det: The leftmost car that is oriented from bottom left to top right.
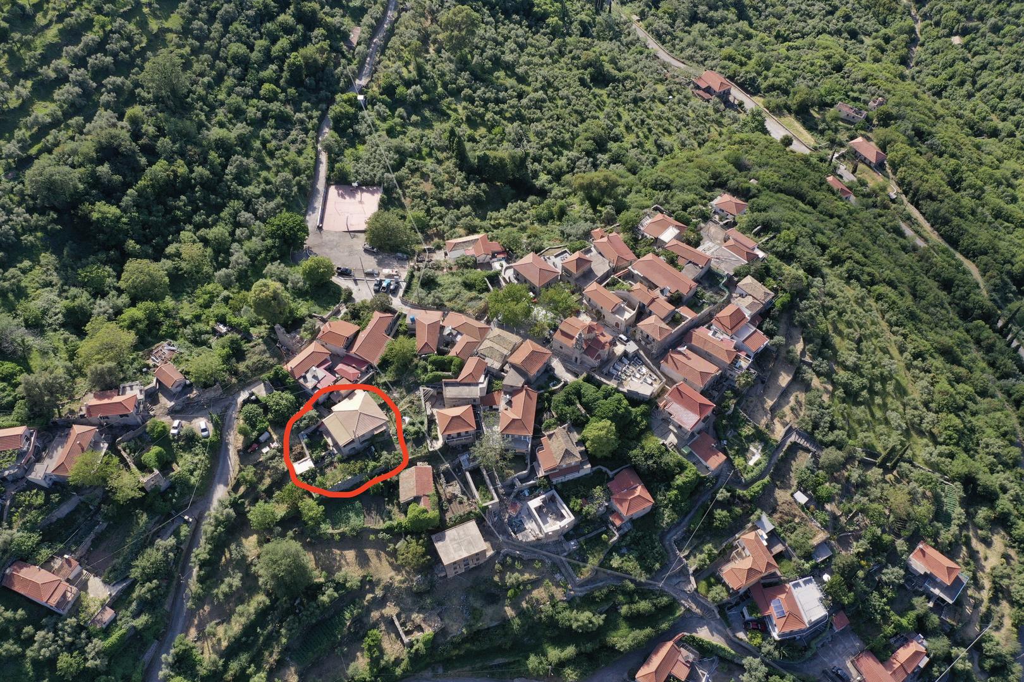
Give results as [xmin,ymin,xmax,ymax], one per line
[169,419,182,434]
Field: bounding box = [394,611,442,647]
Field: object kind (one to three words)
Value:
house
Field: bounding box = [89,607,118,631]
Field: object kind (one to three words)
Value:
shed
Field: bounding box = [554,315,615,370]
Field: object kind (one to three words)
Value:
building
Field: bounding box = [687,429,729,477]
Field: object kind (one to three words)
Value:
shed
